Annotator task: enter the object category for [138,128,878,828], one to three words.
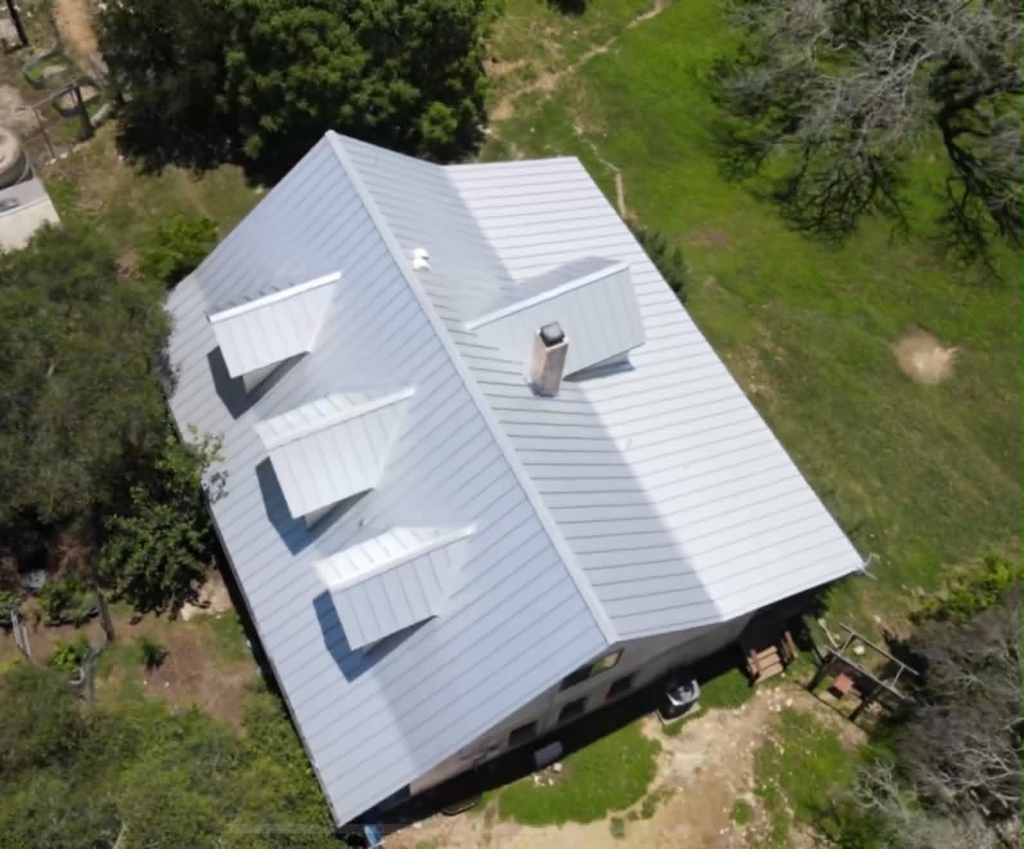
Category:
house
